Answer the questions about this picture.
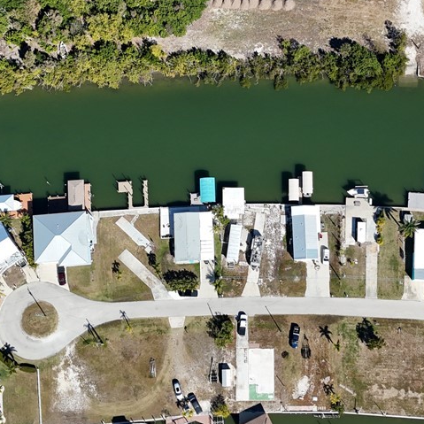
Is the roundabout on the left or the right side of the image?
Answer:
left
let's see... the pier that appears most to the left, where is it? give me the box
[9,192,35,217]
